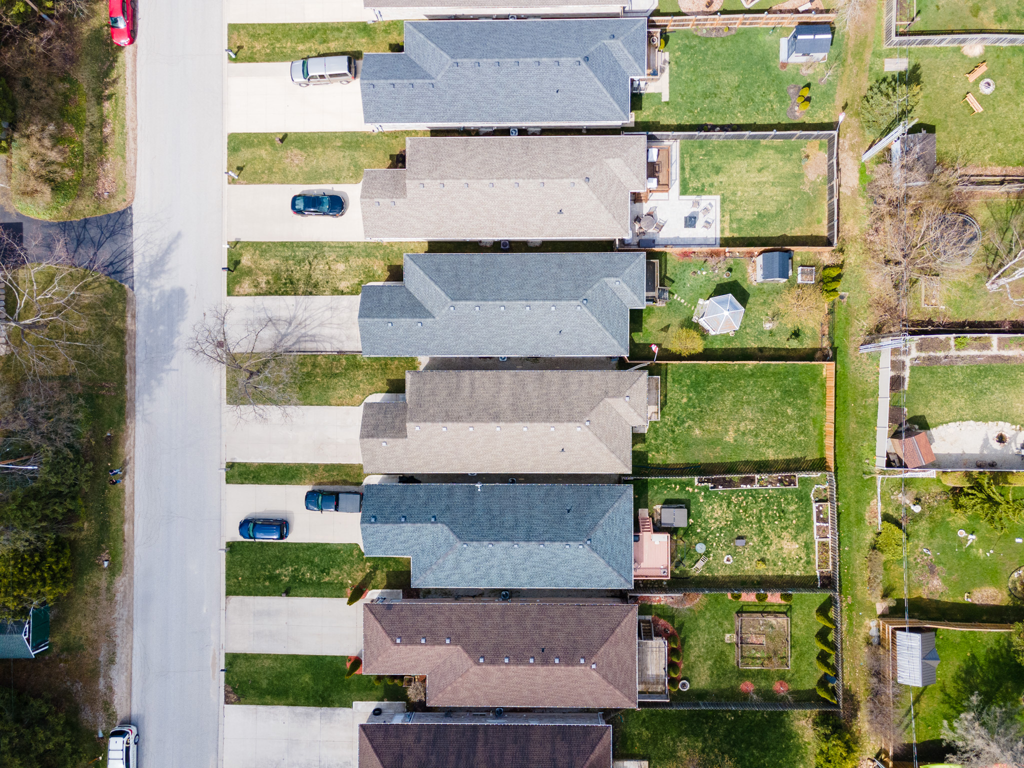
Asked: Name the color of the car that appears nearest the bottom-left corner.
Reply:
white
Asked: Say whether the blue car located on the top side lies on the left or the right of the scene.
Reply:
left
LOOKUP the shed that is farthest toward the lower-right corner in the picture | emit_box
[893,629,946,694]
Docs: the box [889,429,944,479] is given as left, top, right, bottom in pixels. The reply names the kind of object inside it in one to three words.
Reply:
shed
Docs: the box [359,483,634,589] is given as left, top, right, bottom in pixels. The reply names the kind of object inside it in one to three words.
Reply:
house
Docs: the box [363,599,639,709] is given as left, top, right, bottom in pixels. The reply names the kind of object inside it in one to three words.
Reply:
house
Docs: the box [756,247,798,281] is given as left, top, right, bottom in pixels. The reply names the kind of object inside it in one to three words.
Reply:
shed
